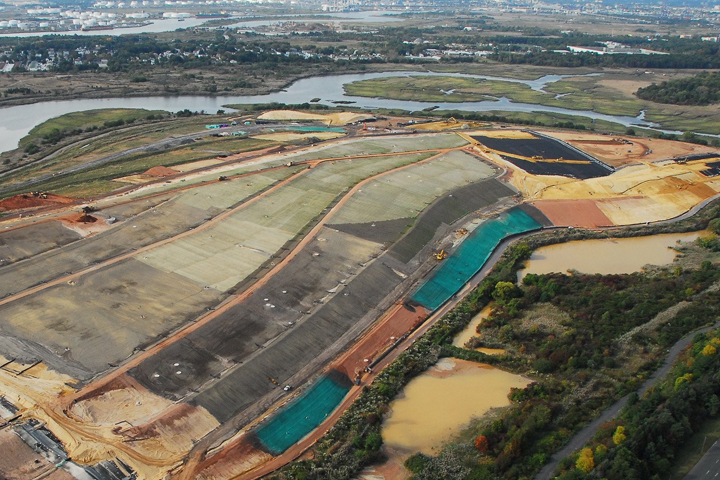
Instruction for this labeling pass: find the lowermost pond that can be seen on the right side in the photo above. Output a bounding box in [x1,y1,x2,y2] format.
[383,358,536,453]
